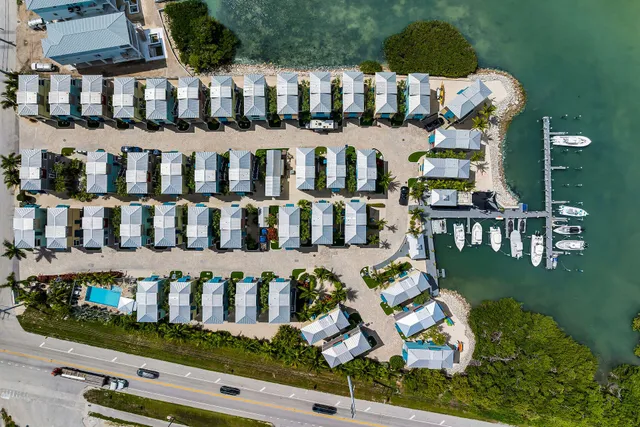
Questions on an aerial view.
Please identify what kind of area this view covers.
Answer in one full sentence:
The picture captures a residential area.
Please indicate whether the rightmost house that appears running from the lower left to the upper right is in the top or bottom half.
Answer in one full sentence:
The rightmost house that appears running from the lower left to the upper right is in the top half of the image.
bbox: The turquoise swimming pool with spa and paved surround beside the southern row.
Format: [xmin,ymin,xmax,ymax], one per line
[73,276,137,315]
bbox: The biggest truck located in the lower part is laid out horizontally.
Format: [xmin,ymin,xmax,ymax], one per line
[56,366,131,394]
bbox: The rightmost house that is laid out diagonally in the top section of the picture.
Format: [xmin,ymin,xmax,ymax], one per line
[440,79,491,125]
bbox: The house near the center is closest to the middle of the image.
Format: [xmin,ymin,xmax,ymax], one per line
[311,201,334,246]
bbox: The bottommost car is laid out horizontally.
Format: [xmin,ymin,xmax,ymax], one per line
[312,401,337,415]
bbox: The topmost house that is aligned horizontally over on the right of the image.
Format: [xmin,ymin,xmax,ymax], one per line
[426,129,481,151]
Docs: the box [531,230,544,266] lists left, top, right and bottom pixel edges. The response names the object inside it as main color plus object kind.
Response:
white boat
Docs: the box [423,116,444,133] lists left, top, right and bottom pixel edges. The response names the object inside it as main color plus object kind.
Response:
black vehicle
